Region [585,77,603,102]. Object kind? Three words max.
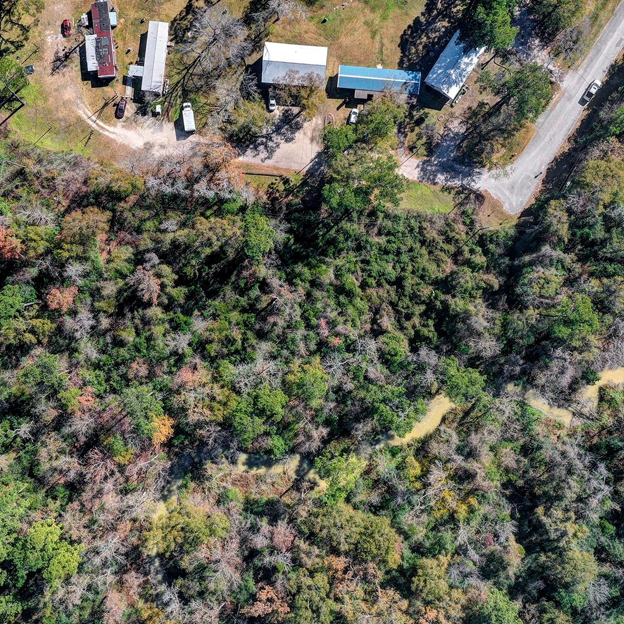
vehicle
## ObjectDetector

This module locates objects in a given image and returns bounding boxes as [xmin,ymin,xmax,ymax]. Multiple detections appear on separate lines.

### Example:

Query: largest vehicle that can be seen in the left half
[181,103,195,133]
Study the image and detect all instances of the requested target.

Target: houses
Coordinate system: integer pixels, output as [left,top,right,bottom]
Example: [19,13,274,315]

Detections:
[85,0,117,78]
[425,25,490,101]
[261,41,328,89]
[128,20,169,94]
[337,65,421,100]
